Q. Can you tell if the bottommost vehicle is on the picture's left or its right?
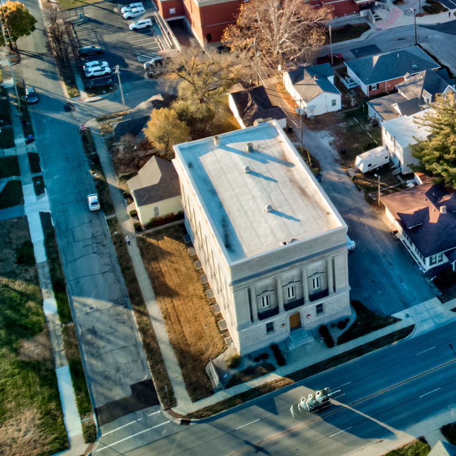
right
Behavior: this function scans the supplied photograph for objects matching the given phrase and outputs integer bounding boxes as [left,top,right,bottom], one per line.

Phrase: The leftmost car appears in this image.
[25,86,38,102]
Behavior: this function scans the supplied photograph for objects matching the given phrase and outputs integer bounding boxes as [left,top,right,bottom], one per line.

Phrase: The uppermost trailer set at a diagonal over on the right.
[353,144,389,180]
